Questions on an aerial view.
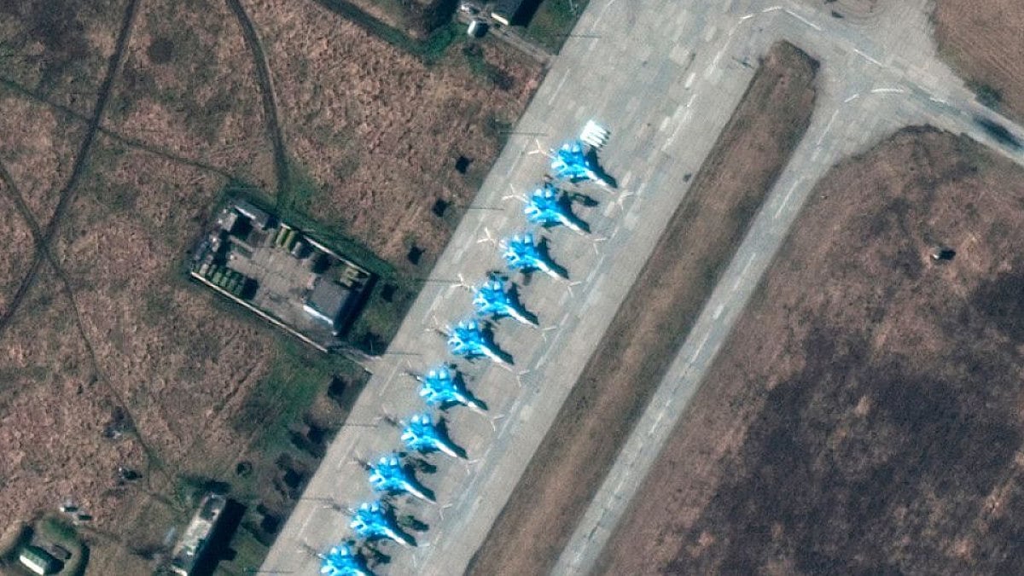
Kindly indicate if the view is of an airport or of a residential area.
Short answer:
airport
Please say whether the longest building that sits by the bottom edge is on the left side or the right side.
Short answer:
left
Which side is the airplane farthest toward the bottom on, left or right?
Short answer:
left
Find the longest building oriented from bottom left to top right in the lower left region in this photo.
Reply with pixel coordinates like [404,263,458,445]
[173,492,228,571]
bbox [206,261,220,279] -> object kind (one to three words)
vehicle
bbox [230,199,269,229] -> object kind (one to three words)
shed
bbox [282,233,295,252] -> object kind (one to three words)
vehicle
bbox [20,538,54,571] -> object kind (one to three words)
building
